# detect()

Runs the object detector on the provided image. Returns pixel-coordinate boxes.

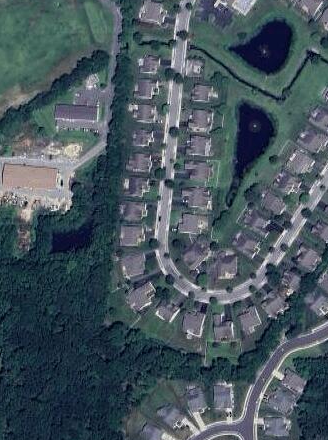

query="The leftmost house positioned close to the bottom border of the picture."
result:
[136,422,168,440]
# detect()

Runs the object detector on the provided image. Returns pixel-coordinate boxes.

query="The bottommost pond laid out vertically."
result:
[233,102,275,182]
